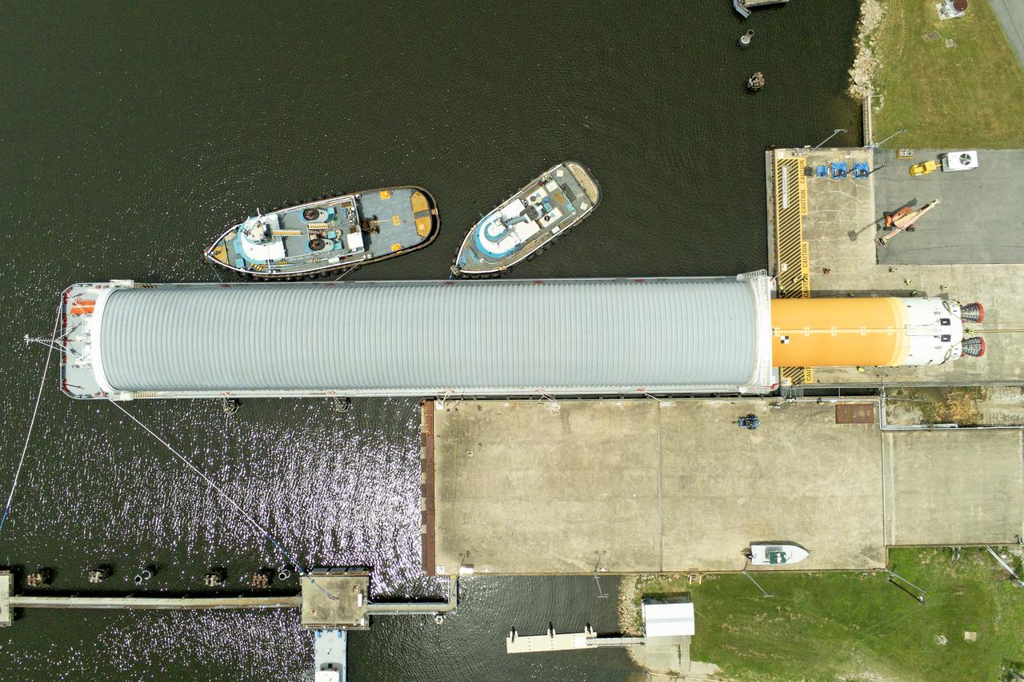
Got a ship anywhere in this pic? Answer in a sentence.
Yes, a ship appears in the view.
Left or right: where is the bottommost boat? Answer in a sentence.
The bottommost boat appears in the left half of the scene.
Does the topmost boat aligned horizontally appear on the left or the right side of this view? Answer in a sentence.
It is on the left.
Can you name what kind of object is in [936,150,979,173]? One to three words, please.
trailer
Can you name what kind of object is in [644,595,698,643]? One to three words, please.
shed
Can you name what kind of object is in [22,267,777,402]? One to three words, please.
ship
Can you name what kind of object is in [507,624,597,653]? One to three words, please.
pier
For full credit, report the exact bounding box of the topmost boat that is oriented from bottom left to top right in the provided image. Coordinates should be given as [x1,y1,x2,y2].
[449,159,603,279]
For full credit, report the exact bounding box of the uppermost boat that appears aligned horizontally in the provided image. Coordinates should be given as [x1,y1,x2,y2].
[202,184,442,280]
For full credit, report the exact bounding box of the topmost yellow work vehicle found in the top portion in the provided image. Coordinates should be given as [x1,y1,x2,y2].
[909,158,939,176]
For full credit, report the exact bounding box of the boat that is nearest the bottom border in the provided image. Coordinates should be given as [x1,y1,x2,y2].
[314,629,349,682]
